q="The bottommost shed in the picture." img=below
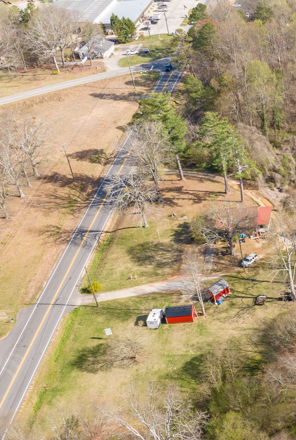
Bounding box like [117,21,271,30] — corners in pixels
[165,303,204,323]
